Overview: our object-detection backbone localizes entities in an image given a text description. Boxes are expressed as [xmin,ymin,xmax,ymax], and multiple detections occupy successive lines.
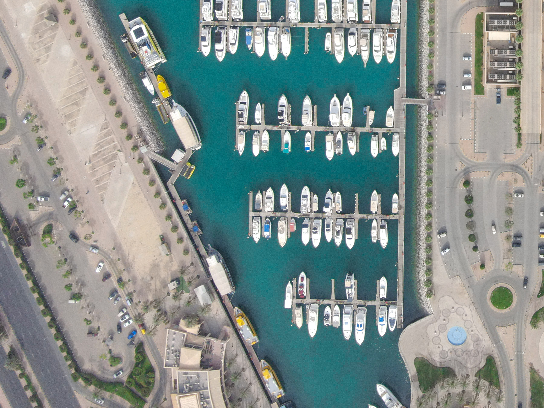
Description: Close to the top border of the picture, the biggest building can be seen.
[484,12,520,86]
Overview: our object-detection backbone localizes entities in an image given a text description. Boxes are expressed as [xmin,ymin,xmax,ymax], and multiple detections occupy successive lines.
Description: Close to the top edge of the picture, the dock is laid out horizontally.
[199,0,400,55]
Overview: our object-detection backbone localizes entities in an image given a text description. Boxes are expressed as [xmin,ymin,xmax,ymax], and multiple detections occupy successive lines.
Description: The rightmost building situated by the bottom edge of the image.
[164,320,232,408]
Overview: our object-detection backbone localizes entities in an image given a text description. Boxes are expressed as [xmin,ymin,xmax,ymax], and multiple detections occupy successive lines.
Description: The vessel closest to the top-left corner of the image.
[120,34,138,60]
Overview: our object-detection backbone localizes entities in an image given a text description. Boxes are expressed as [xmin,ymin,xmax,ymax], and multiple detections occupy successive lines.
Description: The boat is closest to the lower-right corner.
[377,384,403,408]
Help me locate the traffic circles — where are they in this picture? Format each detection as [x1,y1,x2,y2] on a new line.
[486,282,517,313]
